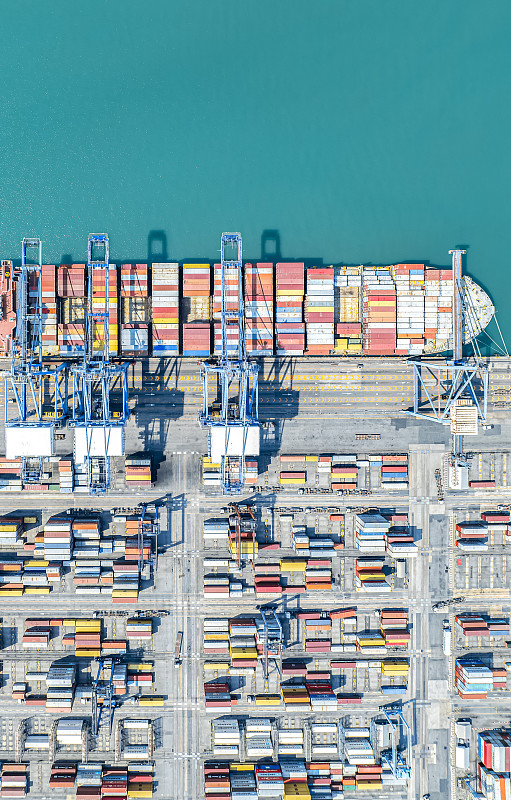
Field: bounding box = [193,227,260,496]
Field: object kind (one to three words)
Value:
container crane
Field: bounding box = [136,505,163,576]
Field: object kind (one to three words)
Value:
container crane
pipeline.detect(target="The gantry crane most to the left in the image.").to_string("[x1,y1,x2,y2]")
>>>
[0,234,81,483]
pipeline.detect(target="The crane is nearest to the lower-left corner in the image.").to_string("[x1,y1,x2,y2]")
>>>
[91,657,120,738]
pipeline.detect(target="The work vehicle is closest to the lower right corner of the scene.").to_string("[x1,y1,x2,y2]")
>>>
[454,770,477,800]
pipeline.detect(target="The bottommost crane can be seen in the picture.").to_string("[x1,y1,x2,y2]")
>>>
[377,709,421,793]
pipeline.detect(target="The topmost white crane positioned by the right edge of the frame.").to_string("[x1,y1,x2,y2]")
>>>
[397,250,488,490]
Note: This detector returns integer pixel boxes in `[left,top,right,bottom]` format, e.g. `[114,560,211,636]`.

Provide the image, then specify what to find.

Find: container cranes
[397,250,488,490]
[0,234,81,483]
[377,709,421,793]
[256,609,287,684]
[193,227,260,496]
[136,505,163,576]
[91,657,120,738]
[230,505,260,576]
[65,228,138,497]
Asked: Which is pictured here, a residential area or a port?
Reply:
port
